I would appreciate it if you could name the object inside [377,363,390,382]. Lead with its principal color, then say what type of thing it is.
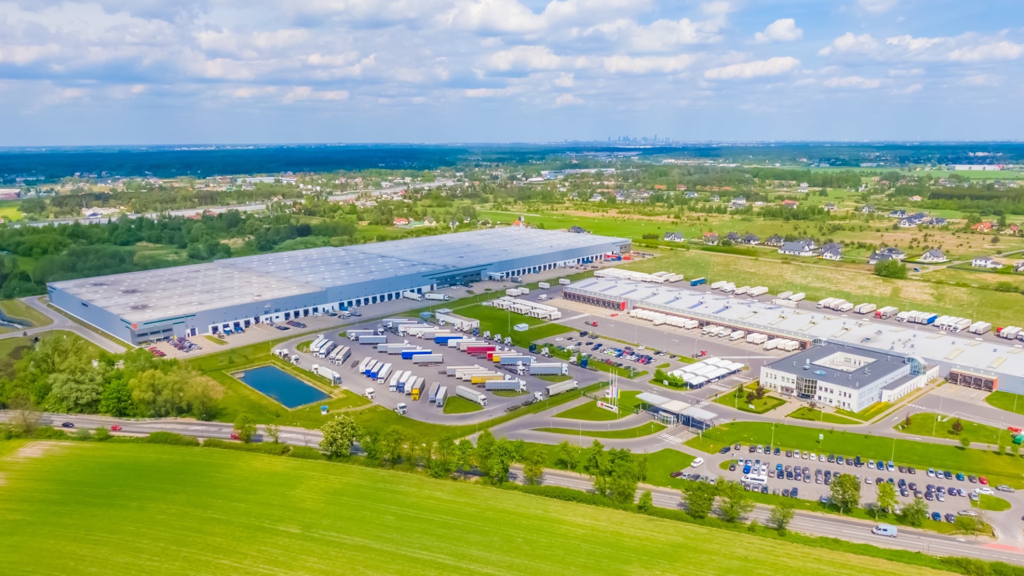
white vehicle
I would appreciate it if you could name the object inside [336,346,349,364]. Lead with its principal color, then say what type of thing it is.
white vehicle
